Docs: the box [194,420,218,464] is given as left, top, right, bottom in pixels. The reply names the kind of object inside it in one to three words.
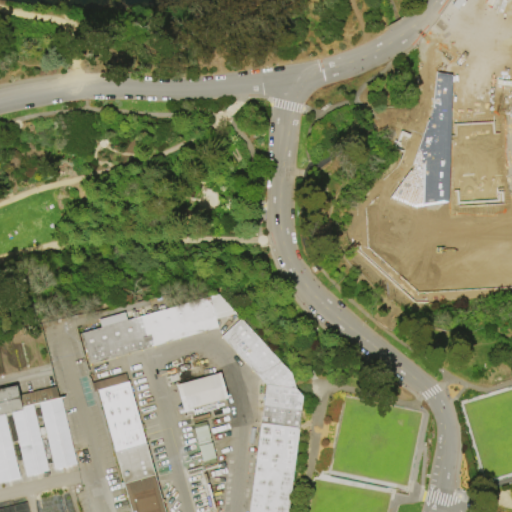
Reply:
shed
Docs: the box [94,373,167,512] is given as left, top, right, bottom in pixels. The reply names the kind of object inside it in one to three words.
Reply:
building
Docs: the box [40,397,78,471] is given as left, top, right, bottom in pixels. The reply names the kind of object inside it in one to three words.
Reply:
building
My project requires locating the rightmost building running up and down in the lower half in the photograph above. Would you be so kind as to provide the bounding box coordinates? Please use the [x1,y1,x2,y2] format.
[222,320,304,512]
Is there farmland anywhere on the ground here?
No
